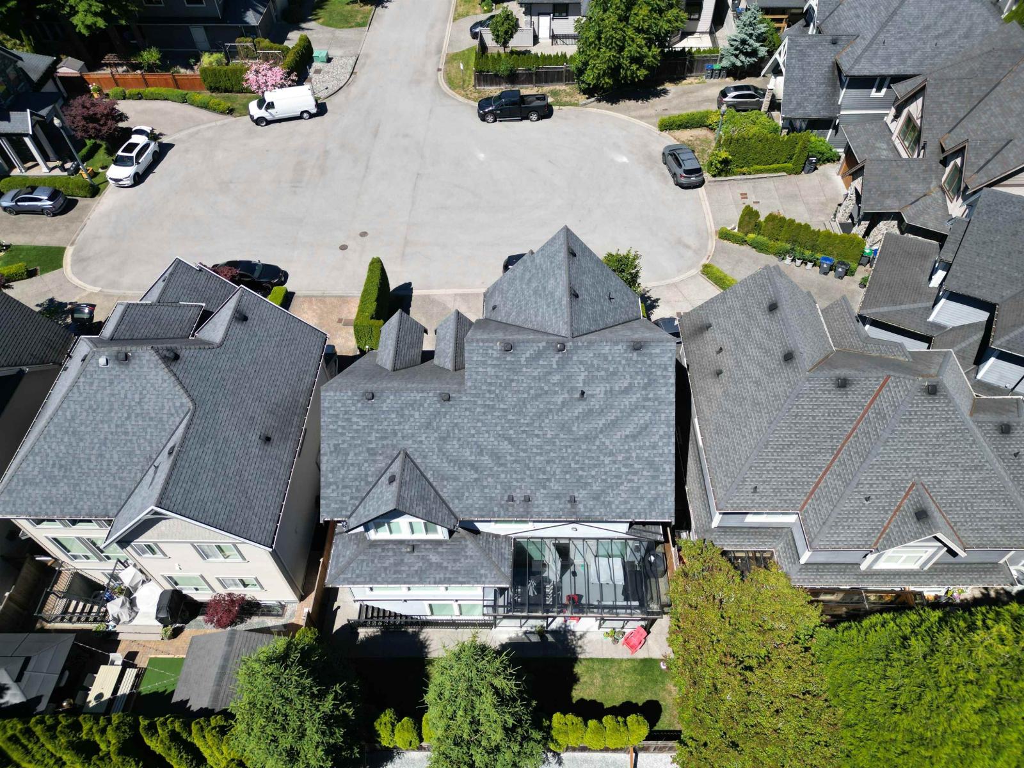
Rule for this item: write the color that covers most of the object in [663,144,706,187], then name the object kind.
gray car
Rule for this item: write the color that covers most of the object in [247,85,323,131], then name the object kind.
white van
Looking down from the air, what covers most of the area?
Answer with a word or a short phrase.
buildings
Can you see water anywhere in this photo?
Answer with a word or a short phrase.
No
